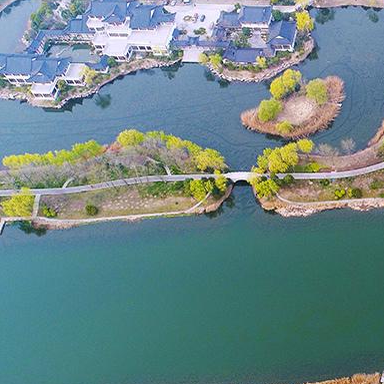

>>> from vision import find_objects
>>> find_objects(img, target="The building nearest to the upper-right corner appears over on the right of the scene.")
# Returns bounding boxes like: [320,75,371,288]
[268,22,300,55]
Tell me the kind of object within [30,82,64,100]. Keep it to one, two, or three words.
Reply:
building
